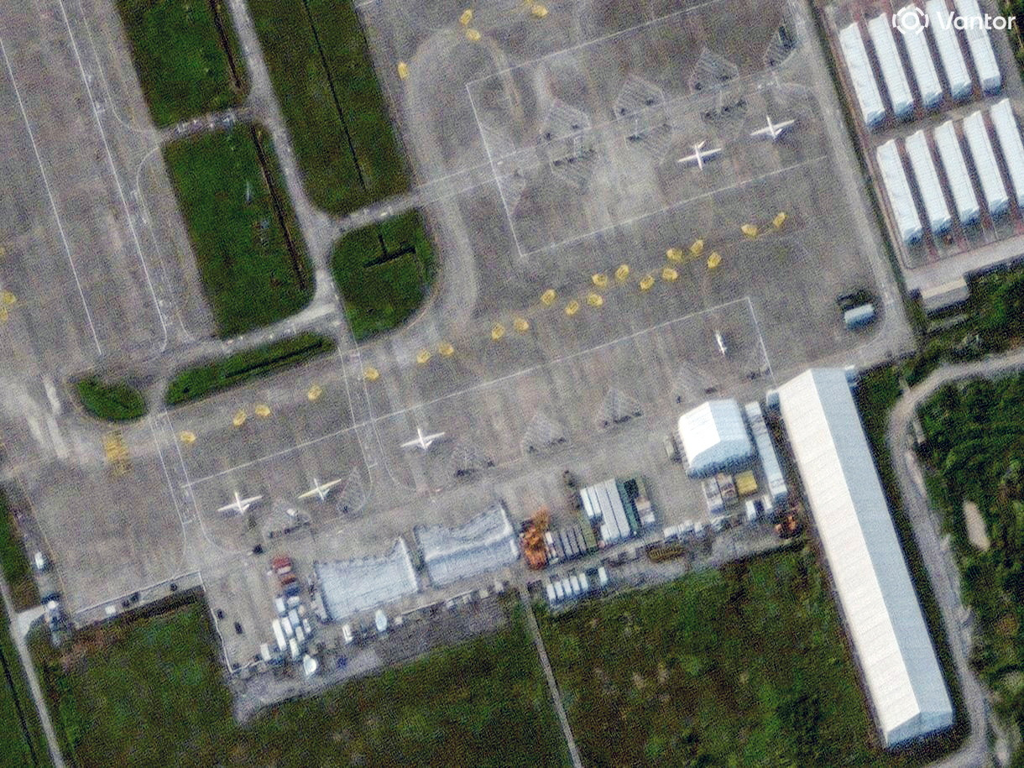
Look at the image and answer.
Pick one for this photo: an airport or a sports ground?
airport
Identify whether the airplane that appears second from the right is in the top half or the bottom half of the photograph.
top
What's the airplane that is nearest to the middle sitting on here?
apron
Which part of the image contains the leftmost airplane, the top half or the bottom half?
bottom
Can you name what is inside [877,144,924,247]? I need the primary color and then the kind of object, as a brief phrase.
white tent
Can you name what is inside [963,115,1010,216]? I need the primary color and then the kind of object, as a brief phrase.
white tent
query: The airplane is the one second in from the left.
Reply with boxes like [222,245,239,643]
[298,479,341,501]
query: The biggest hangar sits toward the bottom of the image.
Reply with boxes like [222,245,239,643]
[766,368,952,743]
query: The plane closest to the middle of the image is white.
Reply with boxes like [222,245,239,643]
[401,429,444,450]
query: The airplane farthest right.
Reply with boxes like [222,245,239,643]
[750,118,793,138]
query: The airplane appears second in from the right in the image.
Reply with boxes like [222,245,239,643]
[677,143,721,167]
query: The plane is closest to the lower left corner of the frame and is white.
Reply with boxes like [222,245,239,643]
[218,493,261,514]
